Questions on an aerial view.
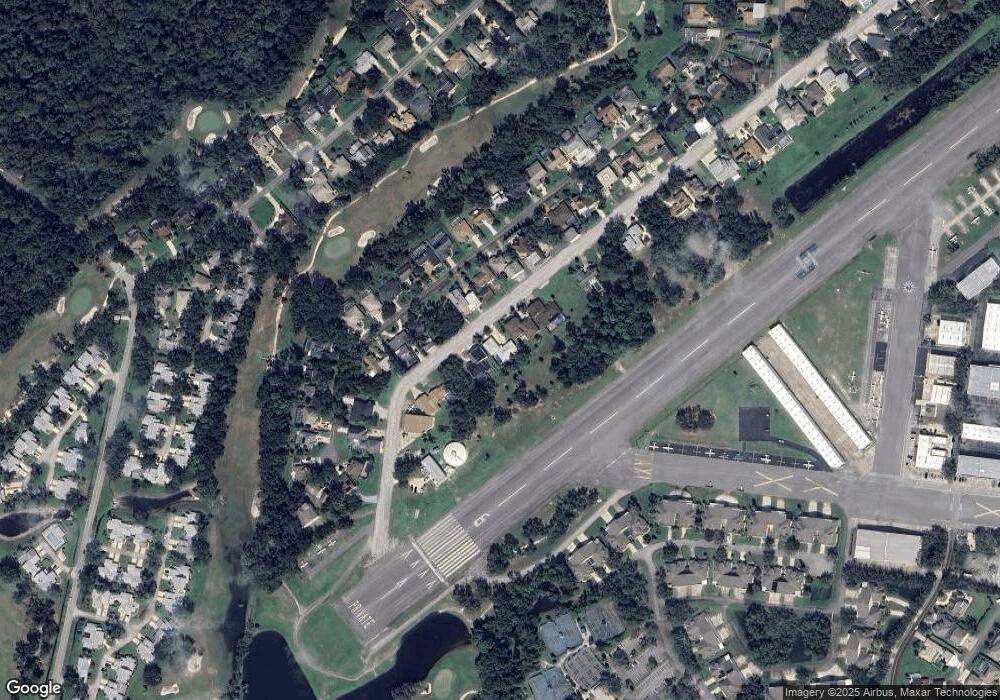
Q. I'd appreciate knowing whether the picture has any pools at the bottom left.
Yes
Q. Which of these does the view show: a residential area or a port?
residential area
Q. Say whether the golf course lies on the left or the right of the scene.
left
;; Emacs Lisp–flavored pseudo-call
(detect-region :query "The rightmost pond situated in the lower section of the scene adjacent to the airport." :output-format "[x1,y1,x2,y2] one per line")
[336,610,472,700]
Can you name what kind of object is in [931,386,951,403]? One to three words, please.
building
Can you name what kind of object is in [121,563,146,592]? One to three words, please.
house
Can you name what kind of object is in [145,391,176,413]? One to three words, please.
house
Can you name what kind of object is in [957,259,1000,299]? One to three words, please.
hangar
